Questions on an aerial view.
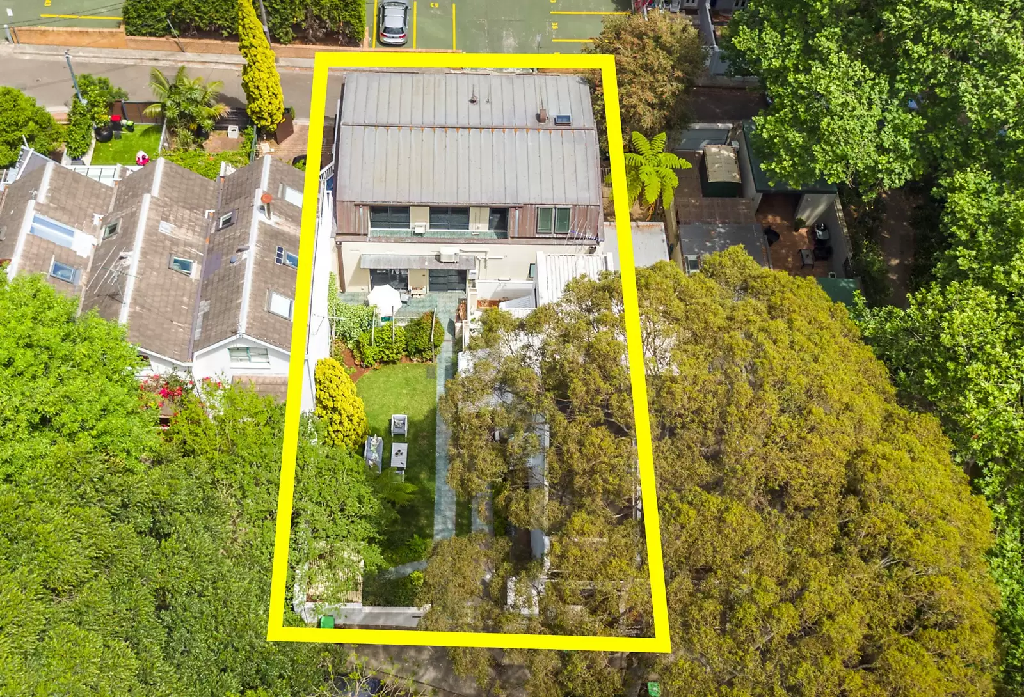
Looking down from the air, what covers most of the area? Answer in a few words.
trees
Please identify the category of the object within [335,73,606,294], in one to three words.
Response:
house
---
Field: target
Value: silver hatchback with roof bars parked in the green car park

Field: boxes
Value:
[377,0,411,42]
